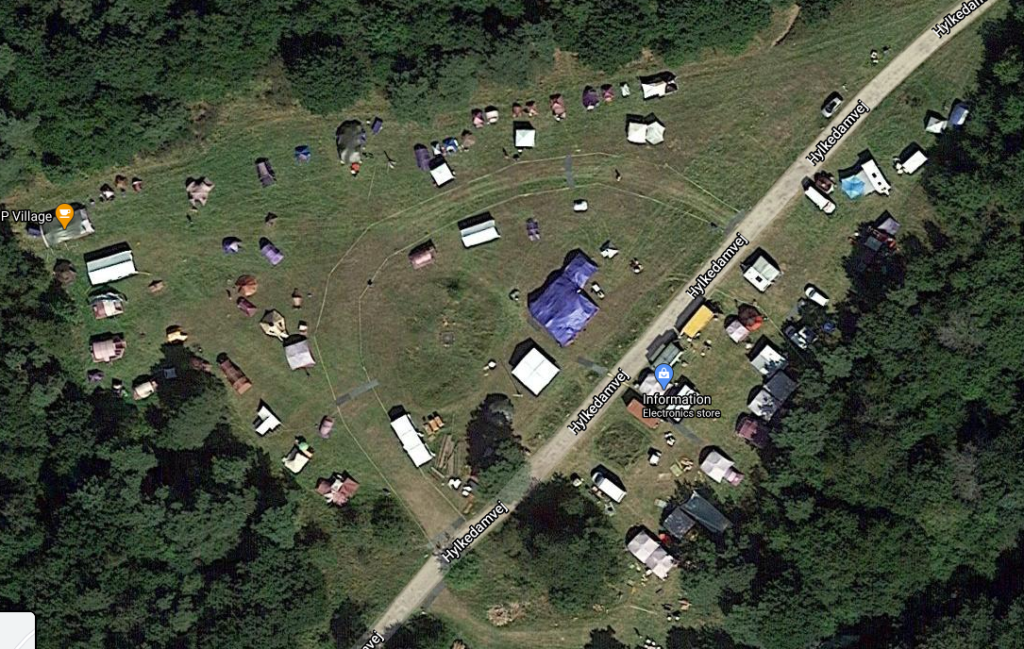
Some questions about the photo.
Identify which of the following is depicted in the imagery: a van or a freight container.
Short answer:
van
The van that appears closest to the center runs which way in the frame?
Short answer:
on a diagonal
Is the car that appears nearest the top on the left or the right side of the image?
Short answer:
right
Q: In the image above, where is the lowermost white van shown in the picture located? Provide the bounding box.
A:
[590,468,628,503]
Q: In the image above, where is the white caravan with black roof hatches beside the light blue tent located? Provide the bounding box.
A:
[862,159,890,198]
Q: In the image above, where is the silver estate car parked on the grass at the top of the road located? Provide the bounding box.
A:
[822,91,843,117]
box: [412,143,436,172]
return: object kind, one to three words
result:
tent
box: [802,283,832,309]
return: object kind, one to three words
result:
vehicle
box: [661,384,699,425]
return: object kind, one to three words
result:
tent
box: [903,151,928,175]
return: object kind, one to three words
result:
camper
